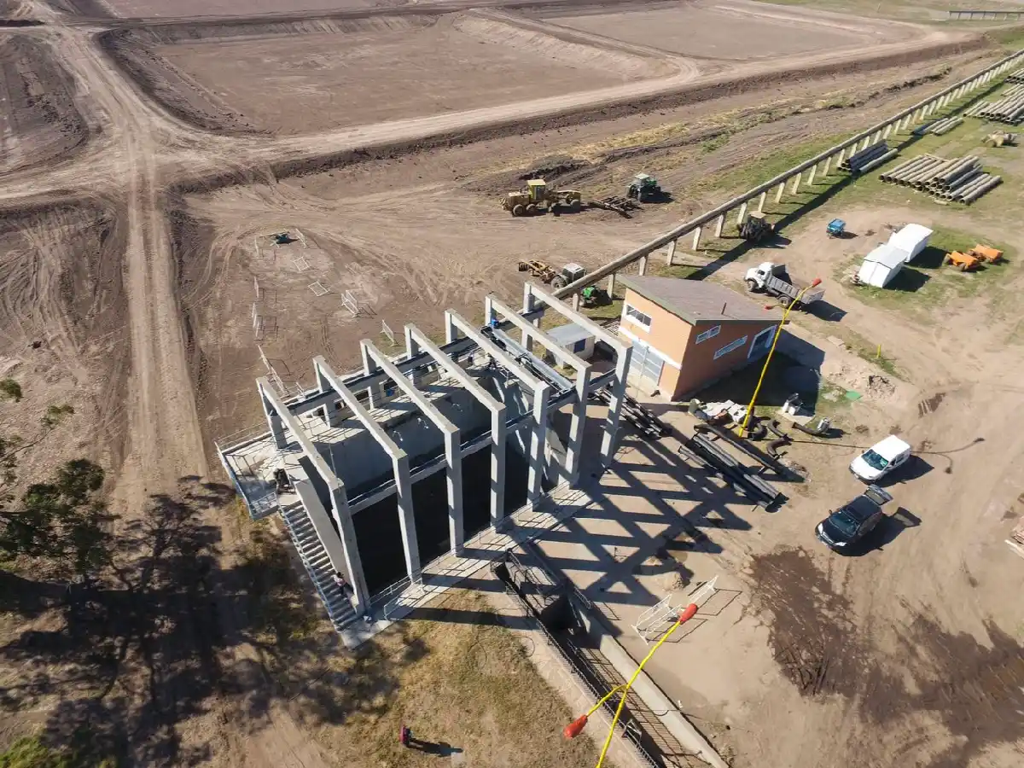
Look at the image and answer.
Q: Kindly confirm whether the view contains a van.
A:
Yes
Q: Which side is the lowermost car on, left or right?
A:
right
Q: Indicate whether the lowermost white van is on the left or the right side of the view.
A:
right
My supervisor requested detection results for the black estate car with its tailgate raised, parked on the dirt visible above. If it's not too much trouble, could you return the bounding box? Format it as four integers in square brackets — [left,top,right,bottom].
[816,475,898,550]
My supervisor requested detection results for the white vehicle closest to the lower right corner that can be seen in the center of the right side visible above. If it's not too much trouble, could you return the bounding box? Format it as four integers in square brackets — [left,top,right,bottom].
[849,430,916,481]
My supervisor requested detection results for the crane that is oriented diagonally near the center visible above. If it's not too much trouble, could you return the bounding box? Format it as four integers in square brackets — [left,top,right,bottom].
[470,315,585,404]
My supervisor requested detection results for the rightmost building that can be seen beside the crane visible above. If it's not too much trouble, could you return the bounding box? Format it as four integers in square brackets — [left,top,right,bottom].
[614,275,785,402]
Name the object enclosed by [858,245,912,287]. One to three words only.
shed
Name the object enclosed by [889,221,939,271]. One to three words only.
shed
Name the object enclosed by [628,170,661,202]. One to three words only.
work vehicle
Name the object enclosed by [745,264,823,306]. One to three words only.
truck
